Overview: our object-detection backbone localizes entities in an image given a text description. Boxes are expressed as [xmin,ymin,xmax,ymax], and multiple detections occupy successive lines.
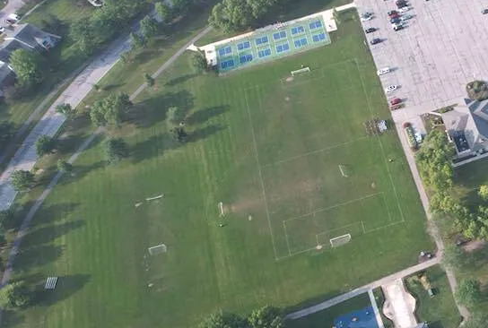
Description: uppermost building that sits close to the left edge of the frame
[0,25,62,63]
